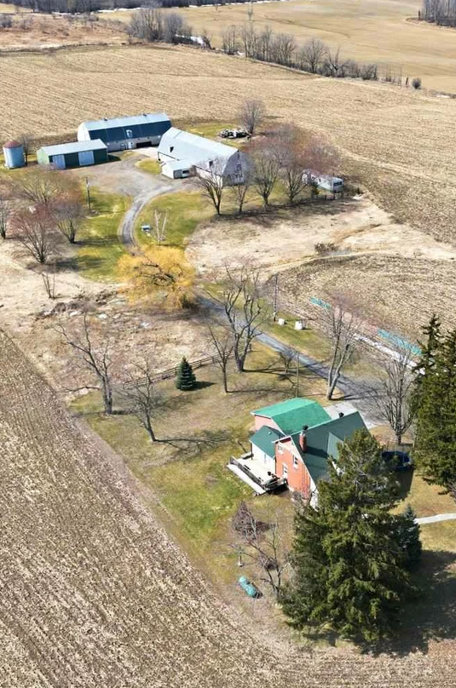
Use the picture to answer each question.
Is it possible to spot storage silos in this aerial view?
Yes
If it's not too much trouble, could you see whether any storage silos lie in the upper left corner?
Yes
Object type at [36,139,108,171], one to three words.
shed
